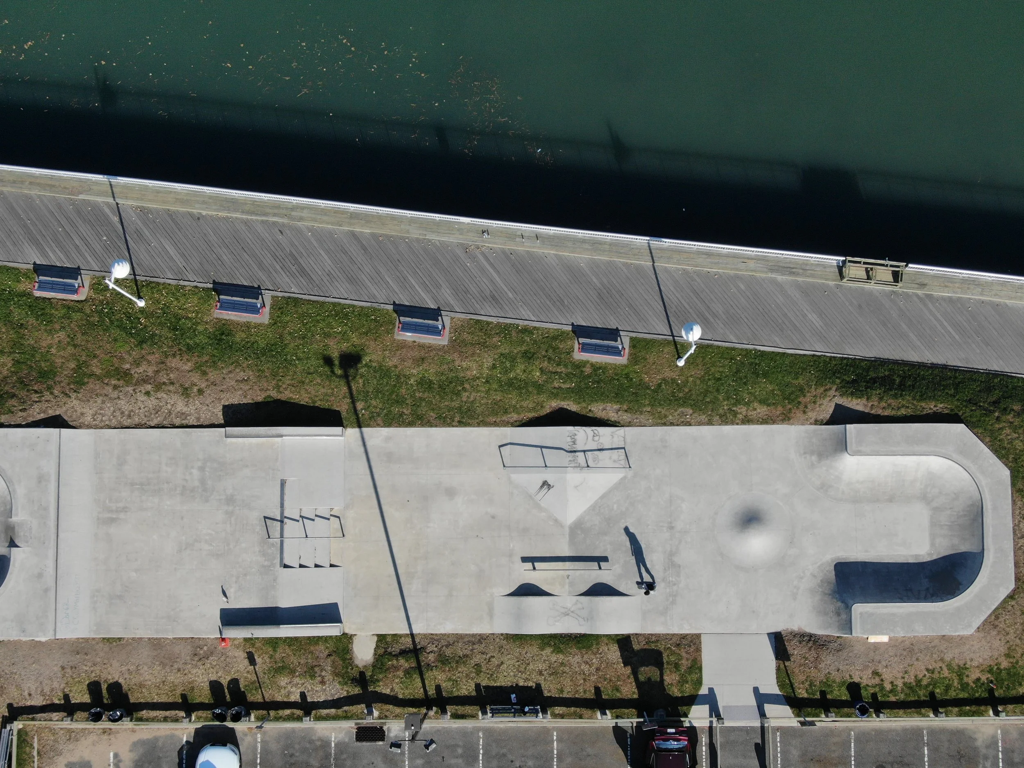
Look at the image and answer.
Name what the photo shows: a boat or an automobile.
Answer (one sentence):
It is an automobile that can be seen here.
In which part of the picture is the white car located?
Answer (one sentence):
The white car appears toward the bottom left of the photo.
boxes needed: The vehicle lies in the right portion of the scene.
[646,724,694,768]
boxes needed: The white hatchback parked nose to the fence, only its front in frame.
[196,742,244,768]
